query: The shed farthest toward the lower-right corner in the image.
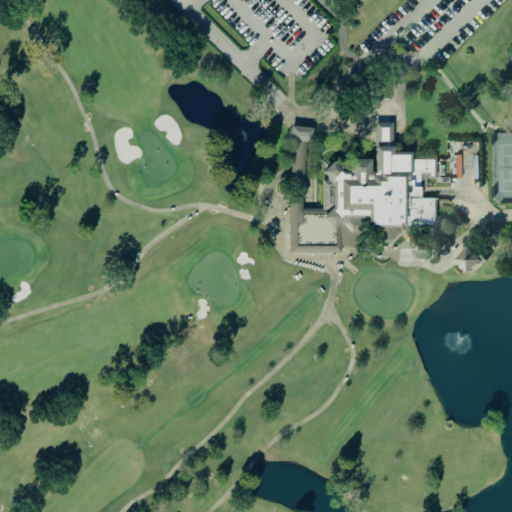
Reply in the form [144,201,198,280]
[456,248,484,272]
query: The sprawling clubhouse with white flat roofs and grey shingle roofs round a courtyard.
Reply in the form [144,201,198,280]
[291,146,438,252]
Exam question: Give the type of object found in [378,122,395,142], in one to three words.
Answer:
building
